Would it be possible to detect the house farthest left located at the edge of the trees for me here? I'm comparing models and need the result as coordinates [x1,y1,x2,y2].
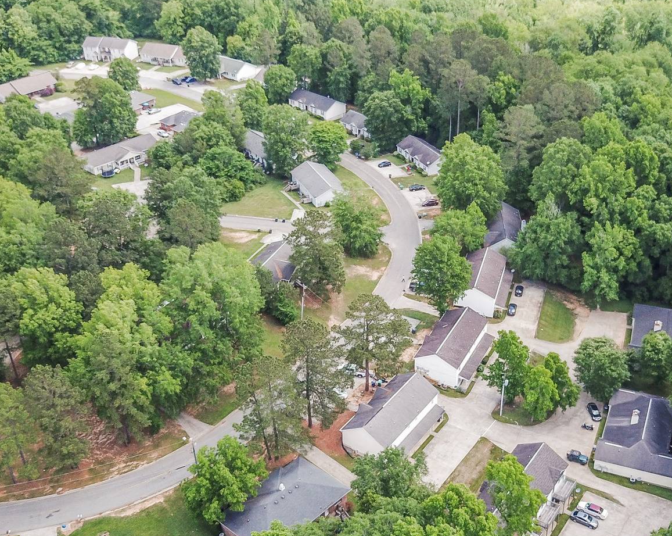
[0,72,57,107]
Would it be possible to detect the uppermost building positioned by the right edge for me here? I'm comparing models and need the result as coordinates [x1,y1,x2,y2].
[629,300,672,360]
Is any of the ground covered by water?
No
